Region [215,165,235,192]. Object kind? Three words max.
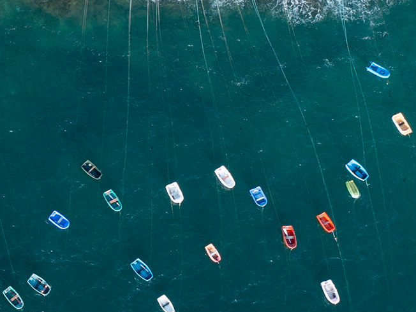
boat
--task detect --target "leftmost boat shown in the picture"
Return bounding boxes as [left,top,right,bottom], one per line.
[4,287,23,311]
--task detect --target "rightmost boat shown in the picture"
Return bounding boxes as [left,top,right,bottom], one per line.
[392,112,414,140]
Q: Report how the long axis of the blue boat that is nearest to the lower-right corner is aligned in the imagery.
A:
at an angle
